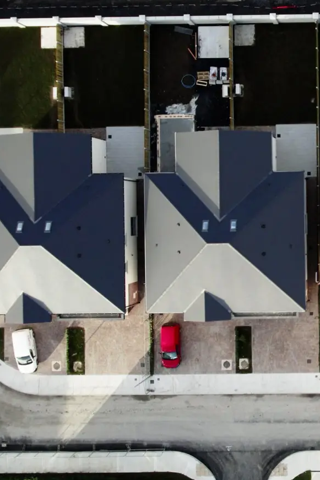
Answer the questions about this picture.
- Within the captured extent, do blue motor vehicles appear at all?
No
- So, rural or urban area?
urban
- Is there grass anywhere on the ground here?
Yes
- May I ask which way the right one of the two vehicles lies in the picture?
up and down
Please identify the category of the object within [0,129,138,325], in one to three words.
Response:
house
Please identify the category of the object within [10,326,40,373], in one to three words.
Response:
van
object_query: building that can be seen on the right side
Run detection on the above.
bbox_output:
[143,127,309,322]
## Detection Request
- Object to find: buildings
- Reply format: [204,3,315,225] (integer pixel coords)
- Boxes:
[143,127,309,322]
[0,129,138,325]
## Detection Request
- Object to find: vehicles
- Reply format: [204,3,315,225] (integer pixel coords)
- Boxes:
[10,326,40,373]
[158,322,182,367]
